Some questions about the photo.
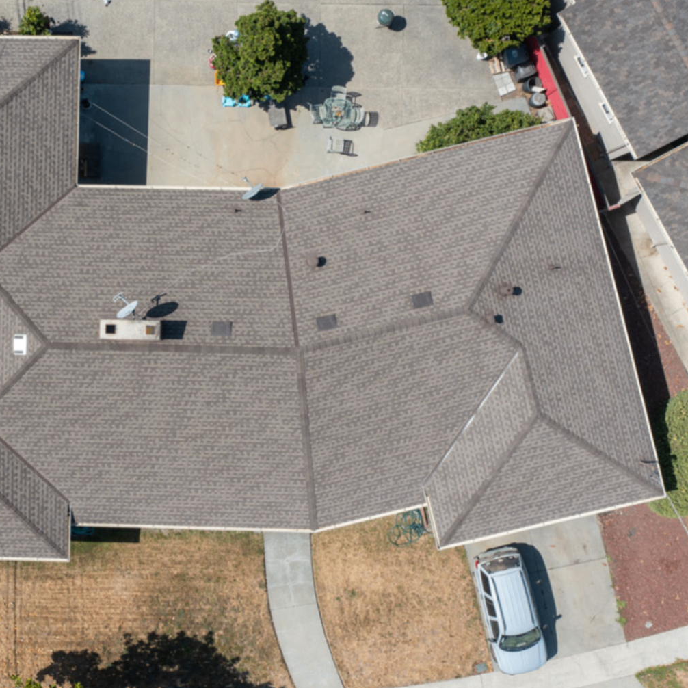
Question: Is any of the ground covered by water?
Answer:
No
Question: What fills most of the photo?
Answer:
buildings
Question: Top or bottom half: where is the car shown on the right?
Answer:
bottom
